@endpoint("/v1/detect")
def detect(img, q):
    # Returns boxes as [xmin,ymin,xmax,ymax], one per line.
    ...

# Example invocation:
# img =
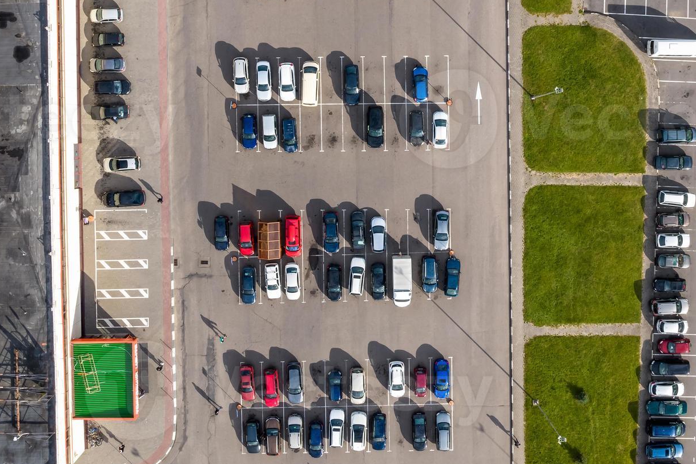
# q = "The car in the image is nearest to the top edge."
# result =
[90,7,123,24]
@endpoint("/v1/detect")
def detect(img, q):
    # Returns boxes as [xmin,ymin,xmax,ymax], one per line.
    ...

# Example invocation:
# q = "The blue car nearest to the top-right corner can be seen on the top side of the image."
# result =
[658,125,696,144]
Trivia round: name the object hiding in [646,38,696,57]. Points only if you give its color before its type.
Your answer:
white vehicle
